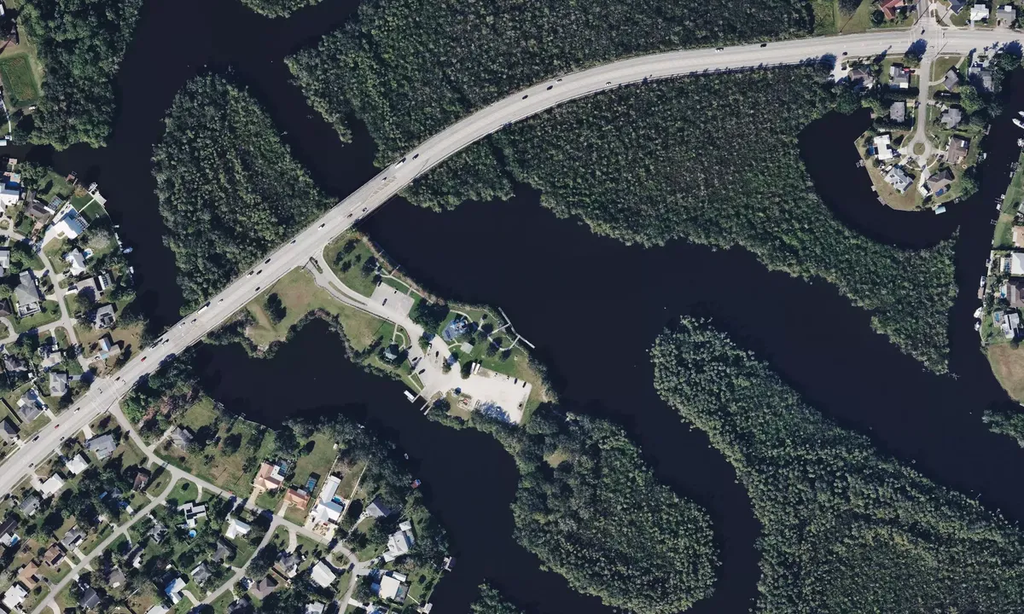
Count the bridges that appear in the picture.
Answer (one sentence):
The photo contains 2 bridges.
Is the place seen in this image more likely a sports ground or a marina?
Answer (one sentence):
What you see here is a marina.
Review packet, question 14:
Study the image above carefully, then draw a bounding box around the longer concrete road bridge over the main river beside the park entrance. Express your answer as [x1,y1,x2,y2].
[322,164,407,239]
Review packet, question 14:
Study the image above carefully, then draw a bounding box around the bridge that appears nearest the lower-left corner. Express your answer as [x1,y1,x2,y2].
[142,307,219,369]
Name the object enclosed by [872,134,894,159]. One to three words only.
house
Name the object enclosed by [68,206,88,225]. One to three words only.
swimming pool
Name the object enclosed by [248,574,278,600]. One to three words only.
house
